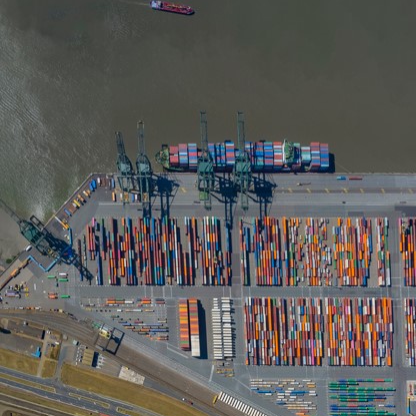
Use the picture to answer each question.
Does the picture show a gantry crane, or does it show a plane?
gantry crane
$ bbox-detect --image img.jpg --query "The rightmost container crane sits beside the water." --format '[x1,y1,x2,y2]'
[231,117,258,209]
